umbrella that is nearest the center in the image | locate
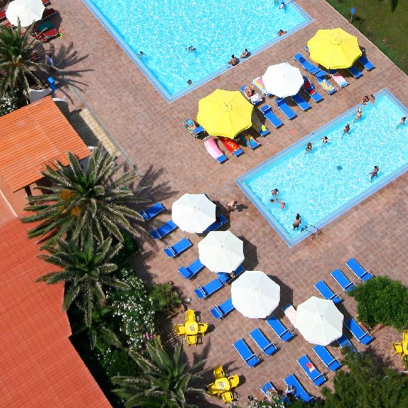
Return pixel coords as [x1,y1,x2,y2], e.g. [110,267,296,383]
[171,192,218,233]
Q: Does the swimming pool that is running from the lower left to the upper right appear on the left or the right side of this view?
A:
right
